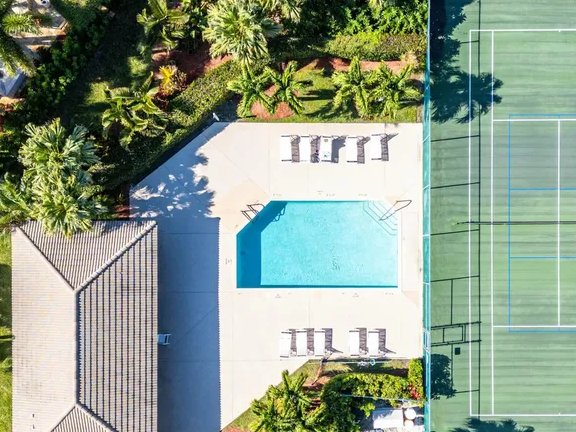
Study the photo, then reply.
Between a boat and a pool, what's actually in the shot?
pool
